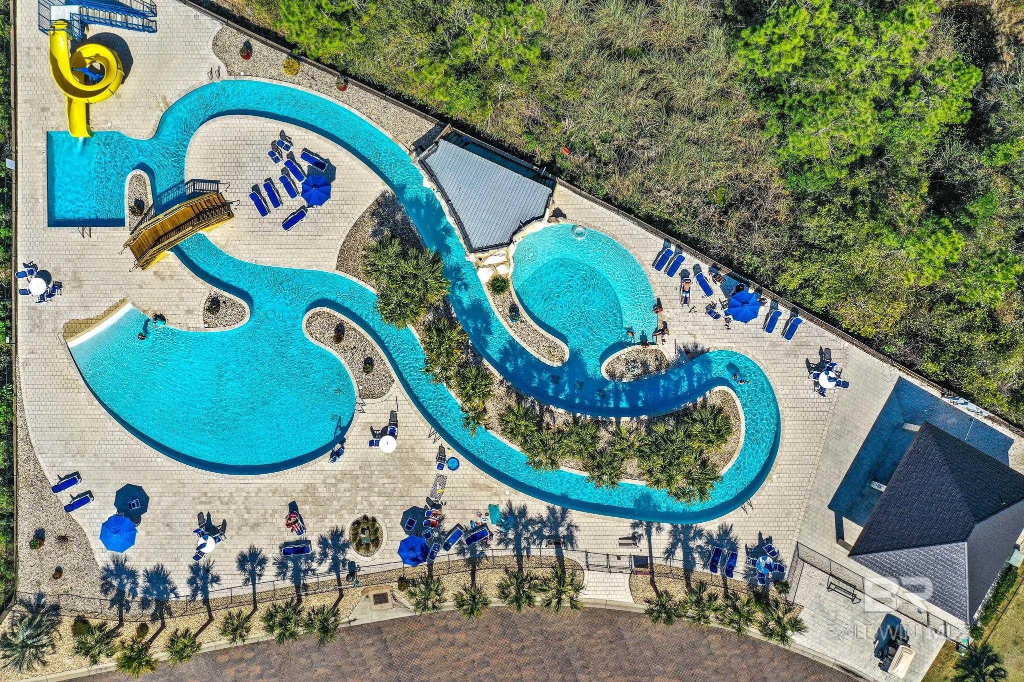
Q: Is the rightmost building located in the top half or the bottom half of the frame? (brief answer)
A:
bottom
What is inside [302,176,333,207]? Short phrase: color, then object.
blue umbrella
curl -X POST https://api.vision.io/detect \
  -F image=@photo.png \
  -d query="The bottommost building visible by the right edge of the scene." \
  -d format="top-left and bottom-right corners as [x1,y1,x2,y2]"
[842,421,1024,627]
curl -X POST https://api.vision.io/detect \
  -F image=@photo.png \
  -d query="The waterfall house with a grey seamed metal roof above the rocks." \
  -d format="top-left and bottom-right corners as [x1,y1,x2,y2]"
[419,139,557,254]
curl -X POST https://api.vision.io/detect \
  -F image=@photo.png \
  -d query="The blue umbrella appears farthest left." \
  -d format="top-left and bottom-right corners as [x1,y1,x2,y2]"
[103,513,142,551]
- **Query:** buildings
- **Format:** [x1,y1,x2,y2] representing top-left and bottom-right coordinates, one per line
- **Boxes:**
[842,421,1024,627]
[419,139,557,254]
